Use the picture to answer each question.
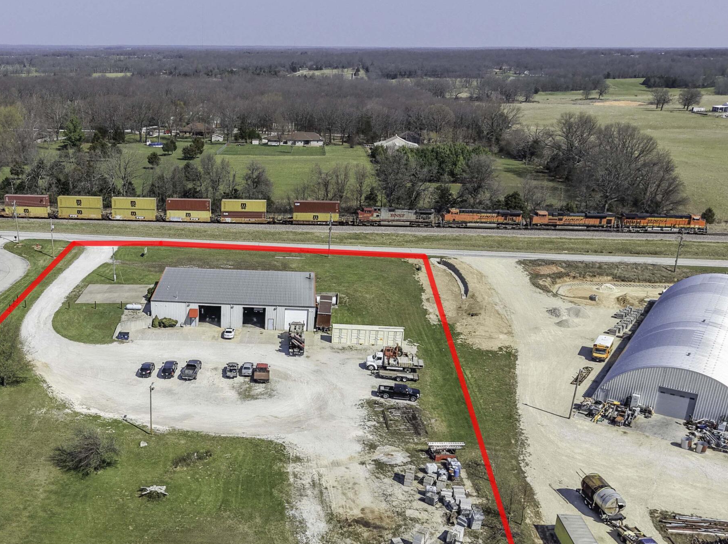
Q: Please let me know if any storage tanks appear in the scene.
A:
Yes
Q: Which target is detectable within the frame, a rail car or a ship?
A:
rail car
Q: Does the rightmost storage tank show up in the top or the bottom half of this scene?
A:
bottom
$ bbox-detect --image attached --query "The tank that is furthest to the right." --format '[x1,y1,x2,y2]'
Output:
[575,461,632,513]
